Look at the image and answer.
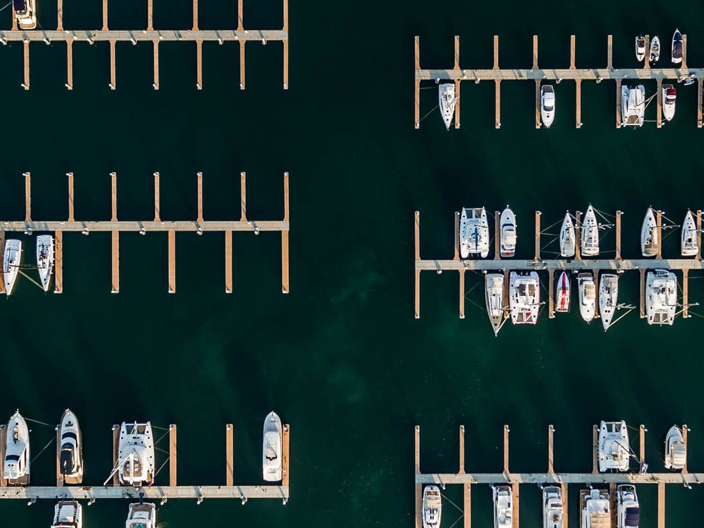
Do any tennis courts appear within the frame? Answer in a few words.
No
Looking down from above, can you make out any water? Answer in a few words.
Yes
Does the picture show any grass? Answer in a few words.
No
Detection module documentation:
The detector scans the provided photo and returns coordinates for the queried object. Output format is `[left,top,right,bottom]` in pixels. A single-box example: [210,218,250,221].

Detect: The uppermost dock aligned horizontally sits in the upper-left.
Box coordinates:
[0,30,288,46]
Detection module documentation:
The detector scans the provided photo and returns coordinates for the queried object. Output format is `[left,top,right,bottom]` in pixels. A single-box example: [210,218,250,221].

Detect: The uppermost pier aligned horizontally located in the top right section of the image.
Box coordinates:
[415,69,704,84]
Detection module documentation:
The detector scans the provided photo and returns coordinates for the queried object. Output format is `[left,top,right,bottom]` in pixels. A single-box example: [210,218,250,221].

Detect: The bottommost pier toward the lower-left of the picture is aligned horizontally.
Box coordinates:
[0,485,289,504]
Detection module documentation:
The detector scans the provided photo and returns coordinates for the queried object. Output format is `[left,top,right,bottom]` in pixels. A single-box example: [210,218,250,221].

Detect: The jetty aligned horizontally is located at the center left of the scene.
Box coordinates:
[0,221,289,236]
